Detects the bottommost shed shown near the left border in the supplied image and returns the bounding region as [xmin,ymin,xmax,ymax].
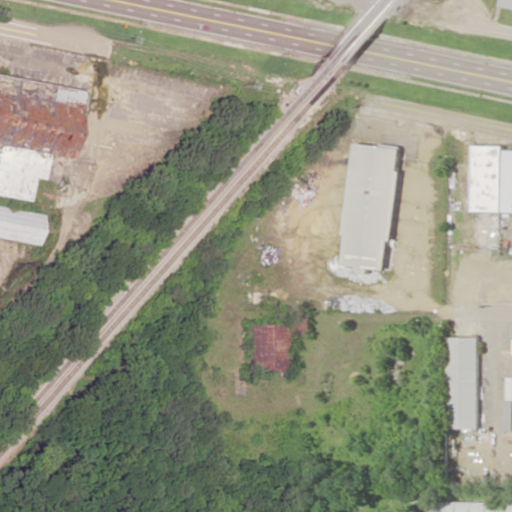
[0,206,49,246]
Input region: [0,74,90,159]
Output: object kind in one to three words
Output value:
building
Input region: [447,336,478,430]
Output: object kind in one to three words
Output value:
shed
